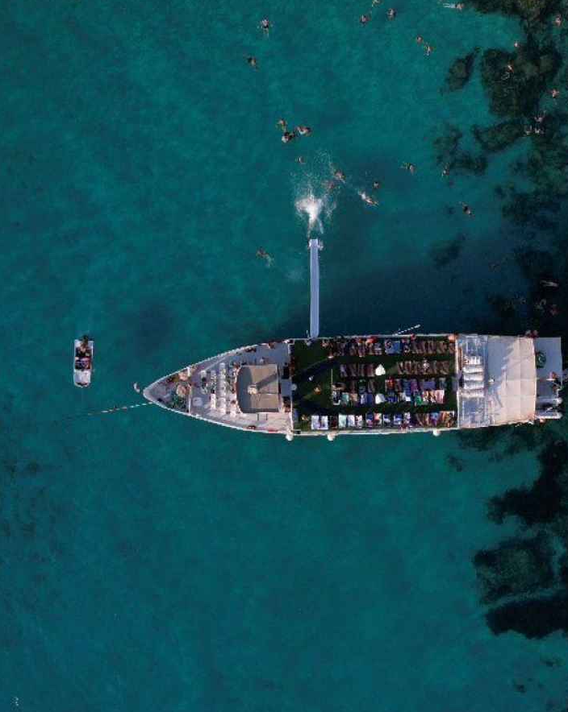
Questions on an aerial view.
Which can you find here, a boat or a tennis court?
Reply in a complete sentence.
Visible in the photo is a boat.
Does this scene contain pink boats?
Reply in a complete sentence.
No, I find no pink boat anywhere in the image.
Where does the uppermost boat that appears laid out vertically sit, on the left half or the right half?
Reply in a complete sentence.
The uppermost boat that appears laid out vertically appears in the left half of the scene.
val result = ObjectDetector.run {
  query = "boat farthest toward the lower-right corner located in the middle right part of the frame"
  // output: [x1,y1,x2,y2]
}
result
[536,399,563,422]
